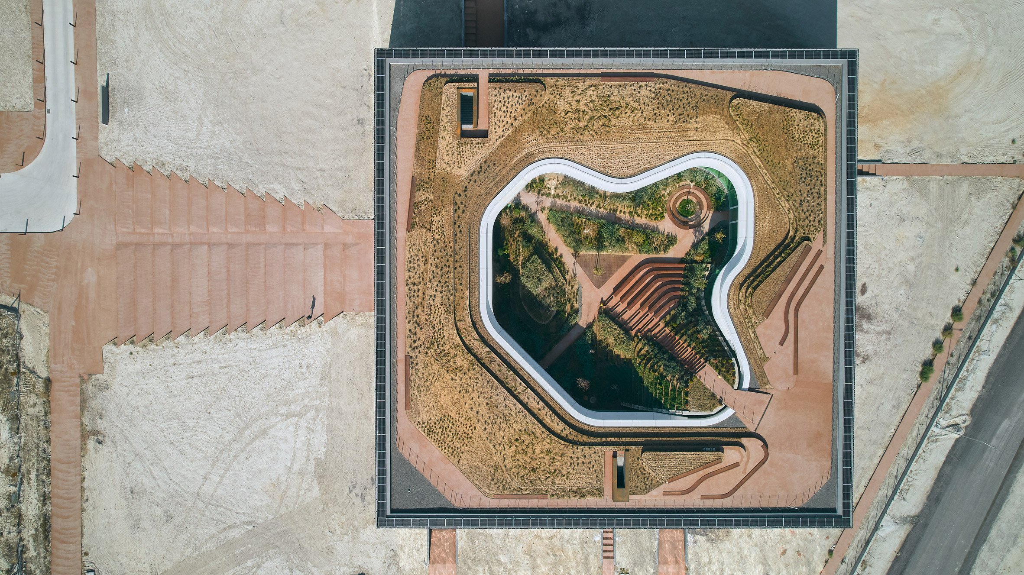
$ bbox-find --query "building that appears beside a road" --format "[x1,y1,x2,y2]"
[374,48,859,529]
